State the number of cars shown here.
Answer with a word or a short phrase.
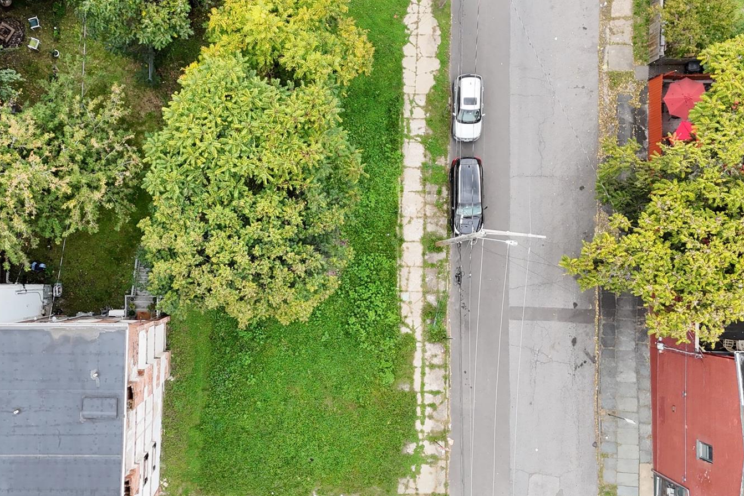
2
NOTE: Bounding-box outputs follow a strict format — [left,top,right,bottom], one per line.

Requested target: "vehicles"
[448,158,486,236]
[448,75,485,145]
